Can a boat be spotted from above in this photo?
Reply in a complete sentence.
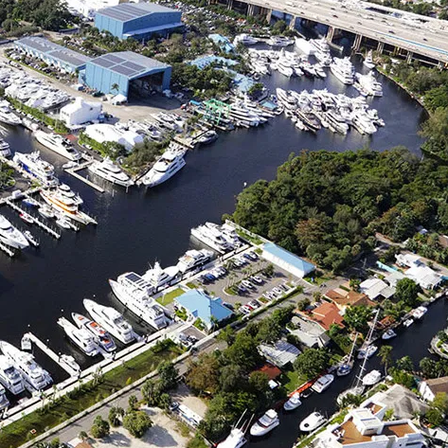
Yes, there is a boat in the image.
